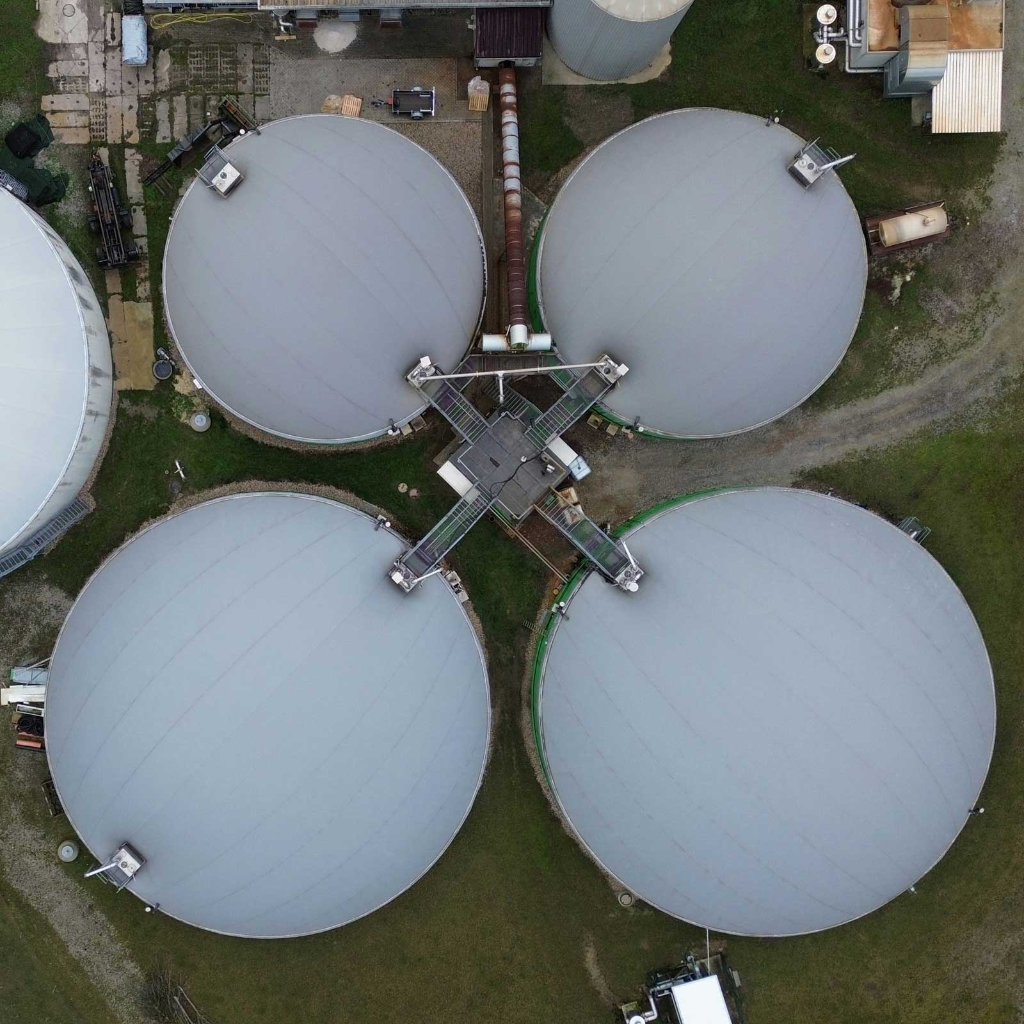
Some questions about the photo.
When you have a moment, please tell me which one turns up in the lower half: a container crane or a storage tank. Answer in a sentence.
Looking in the lower half, you will find a storage tank.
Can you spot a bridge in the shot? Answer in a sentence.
Yes, a bridge appears in the view.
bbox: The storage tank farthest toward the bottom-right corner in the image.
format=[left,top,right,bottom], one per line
[532,485,995,939]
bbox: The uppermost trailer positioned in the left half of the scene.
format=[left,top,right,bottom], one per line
[123,0,151,73]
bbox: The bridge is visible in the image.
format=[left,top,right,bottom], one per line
[452,351,583,391]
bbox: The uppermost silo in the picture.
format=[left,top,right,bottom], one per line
[547,0,693,82]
